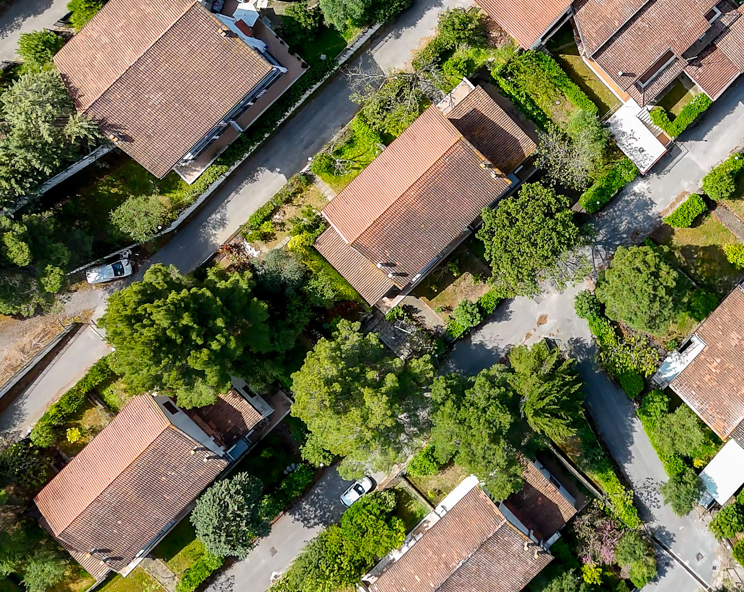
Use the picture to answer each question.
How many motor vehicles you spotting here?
2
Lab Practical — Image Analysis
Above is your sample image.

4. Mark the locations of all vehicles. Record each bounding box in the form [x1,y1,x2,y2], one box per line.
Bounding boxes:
[84,259,133,288]
[336,473,375,507]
